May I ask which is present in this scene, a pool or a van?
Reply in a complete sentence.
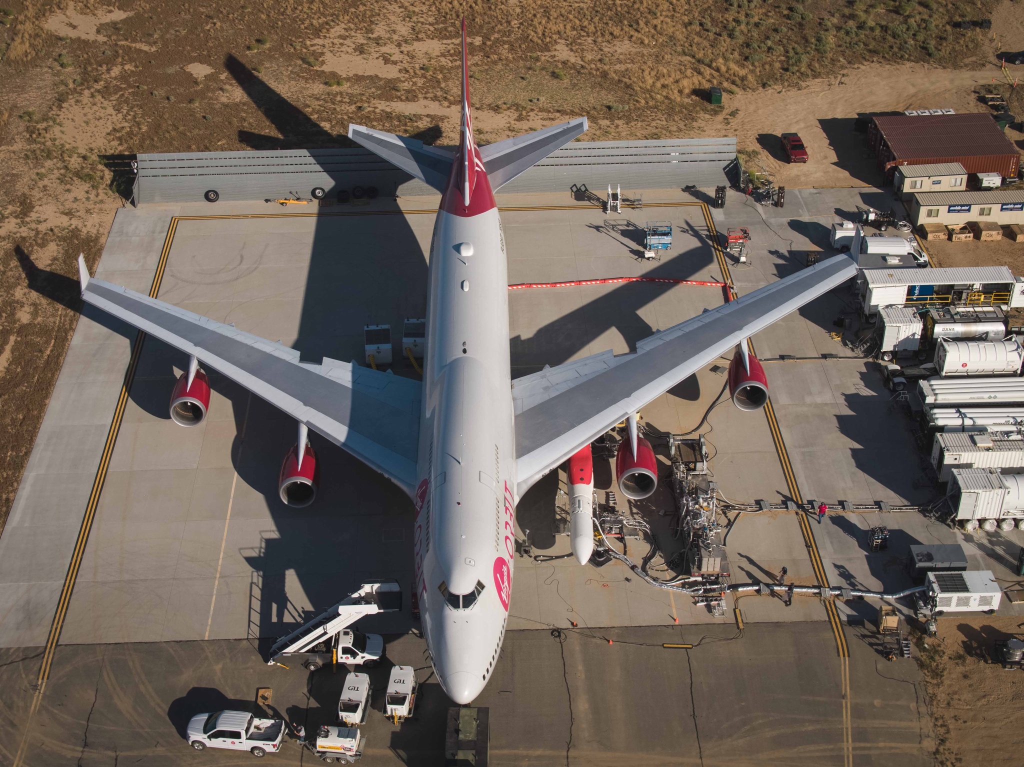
It is a van that can be seen here.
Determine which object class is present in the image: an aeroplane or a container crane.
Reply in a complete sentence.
There is an aeroplane in the scene.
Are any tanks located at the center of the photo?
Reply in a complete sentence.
No, the scene shows no tank at the center of the photo.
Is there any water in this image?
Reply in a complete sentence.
No, there's no water in this view.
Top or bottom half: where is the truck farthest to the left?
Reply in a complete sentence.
The truck farthest to the left is in the bottom half of the image.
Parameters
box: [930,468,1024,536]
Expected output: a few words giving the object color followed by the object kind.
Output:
white trailer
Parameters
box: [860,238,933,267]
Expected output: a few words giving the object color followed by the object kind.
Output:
white van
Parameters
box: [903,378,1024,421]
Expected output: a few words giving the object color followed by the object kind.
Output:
white trailer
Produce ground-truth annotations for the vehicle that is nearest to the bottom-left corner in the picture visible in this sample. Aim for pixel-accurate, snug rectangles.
[184,708,288,758]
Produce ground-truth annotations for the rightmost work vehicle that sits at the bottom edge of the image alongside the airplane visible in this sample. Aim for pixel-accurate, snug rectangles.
[446,707,491,767]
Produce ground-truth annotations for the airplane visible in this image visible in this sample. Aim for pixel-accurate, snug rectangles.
[76,13,860,707]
